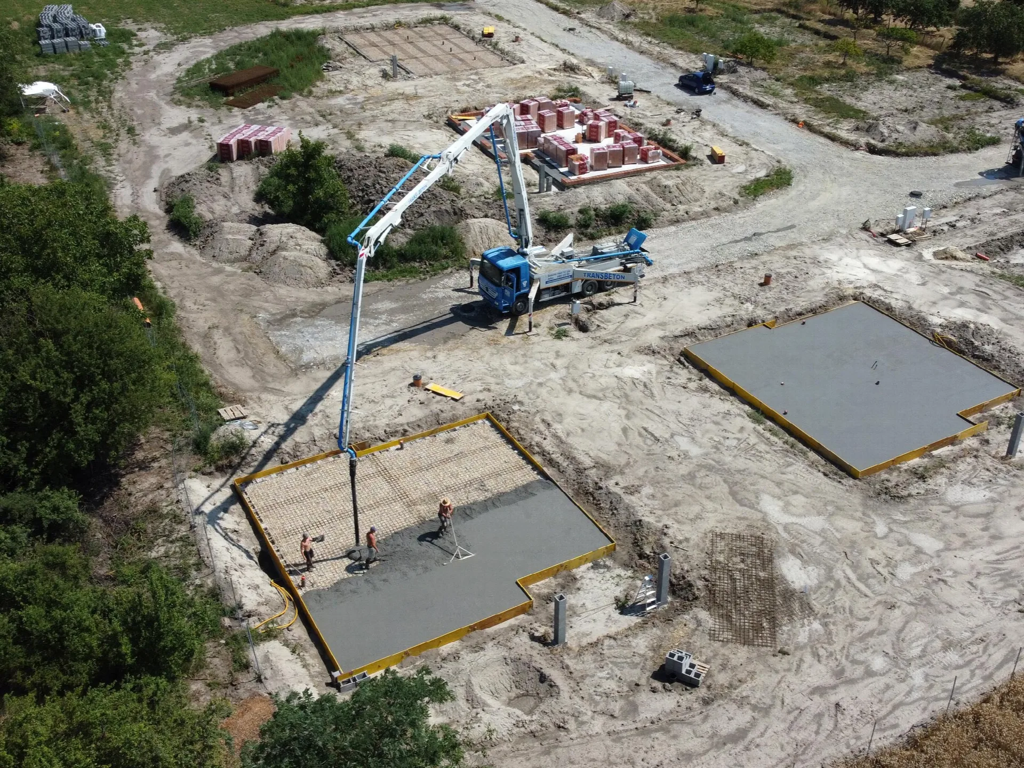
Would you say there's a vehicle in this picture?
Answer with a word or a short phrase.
Yes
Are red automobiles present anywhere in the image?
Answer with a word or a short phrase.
No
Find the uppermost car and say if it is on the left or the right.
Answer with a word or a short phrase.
right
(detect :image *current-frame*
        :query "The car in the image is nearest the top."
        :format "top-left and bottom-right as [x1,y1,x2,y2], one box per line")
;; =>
[678,68,721,93]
